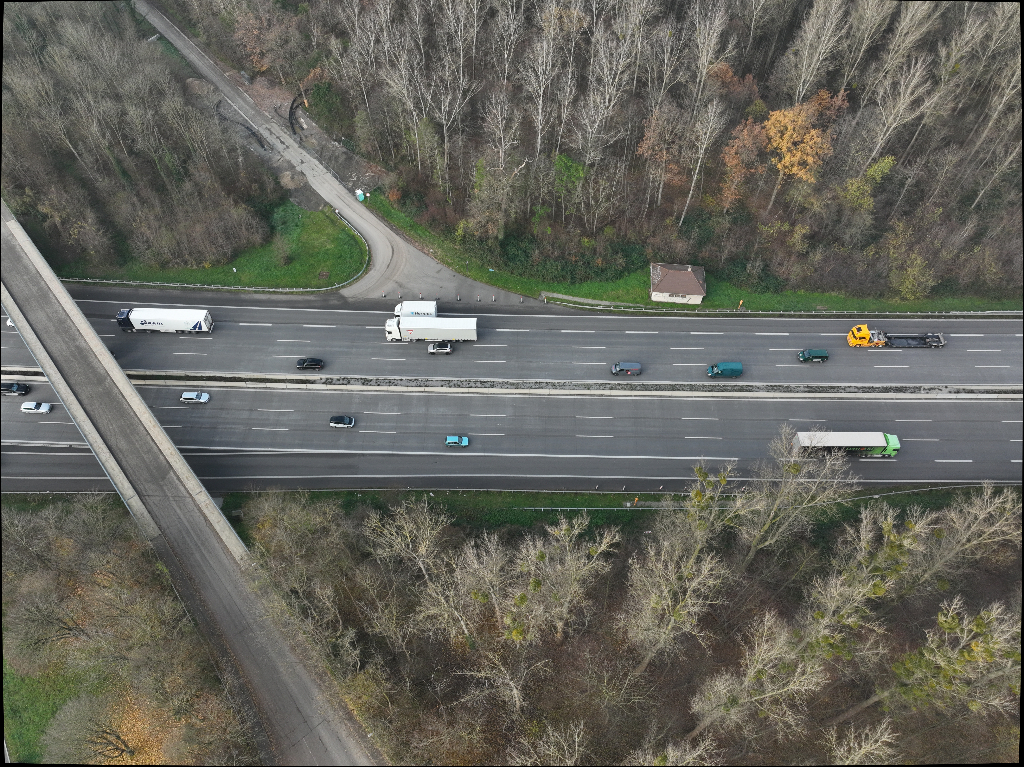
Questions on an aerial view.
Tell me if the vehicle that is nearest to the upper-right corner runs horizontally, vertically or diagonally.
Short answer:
horizontally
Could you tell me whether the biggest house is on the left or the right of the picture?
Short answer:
right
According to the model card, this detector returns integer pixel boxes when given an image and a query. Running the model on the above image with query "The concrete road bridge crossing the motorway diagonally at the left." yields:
[0,192,254,570]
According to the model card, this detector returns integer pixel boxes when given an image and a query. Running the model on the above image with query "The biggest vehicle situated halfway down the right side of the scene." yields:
[788,432,903,459]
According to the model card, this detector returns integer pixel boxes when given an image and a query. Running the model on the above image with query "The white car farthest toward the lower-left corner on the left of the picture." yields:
[20,400,54,413]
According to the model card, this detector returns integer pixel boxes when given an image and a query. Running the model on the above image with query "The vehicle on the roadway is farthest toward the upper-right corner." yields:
[844,323,948,347]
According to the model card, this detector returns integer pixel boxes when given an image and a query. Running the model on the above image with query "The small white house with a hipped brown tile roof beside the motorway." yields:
[650,264,707,304]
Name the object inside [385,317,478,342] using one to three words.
truck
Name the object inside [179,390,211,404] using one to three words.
car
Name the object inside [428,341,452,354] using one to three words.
vehicle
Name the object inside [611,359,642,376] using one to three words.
vehicle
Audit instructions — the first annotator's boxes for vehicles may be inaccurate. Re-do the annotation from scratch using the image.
[0,381,32,395]
[611,359,642,376]
[385,317,478,342]
[428,341,452,354]
[392,301,438,321]
[5,318,18,328]
[115,307,215,333]
[297,357,325,370]
[446,434,469,447]
[788,432,903,459]
[329,414,356,428]
[796,349,830,363]
[706,360,744,378]
[844,323,948,347]
[179,390,211,404]
[20,400,54,413]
